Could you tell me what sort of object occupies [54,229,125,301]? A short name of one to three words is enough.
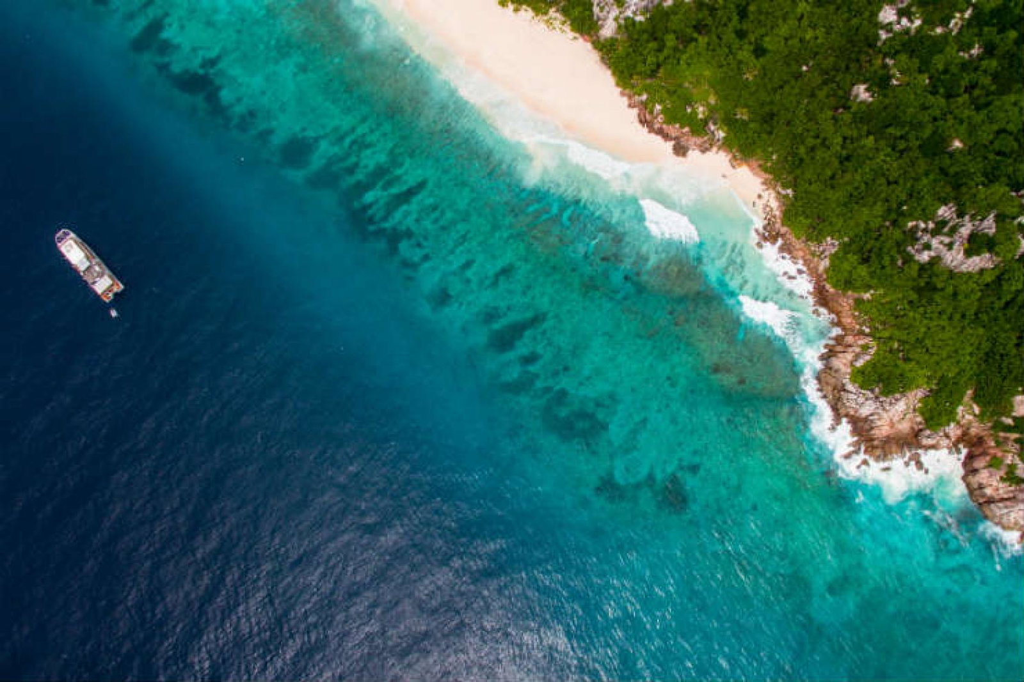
boat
